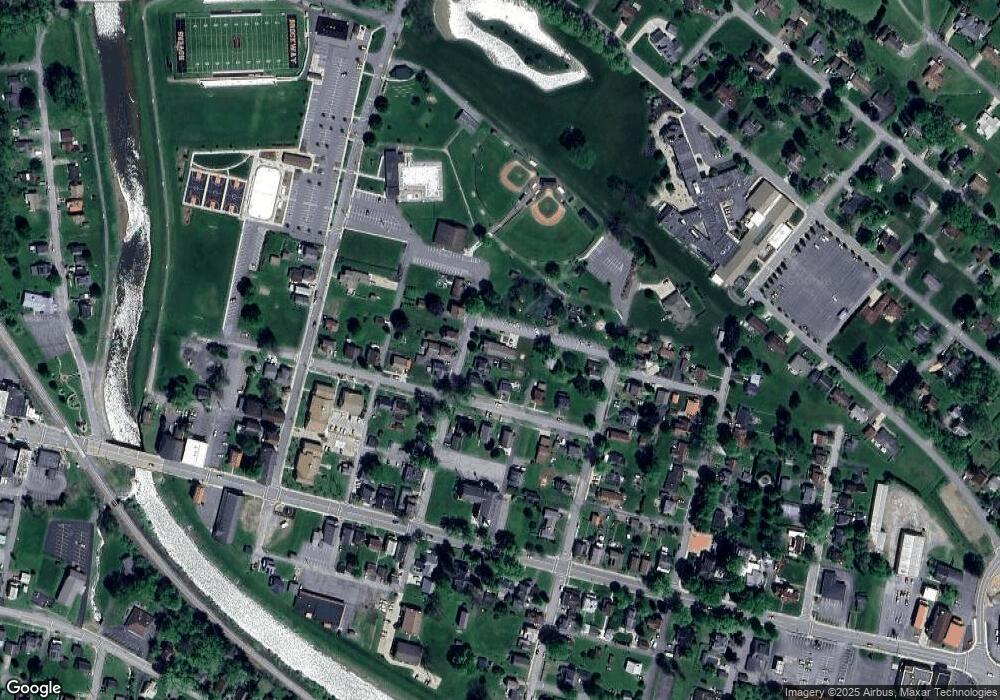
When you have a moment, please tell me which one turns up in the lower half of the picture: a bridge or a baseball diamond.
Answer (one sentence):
The feature located in the lower half of the picture is a bridge.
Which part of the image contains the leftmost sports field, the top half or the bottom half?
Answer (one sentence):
You can find the leftmost sports field in the top half.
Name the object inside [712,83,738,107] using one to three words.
house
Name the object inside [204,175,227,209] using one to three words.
basketball court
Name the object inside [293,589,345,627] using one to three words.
building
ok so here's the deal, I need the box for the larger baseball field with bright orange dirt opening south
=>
[496,188,597,262]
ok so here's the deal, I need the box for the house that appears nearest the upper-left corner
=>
[3,80,24,104]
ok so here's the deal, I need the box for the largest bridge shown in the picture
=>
[85,438,166,474]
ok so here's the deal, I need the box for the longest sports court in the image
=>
[249,166,281,220]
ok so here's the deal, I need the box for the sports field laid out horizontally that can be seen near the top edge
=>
[173,11,302,78]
